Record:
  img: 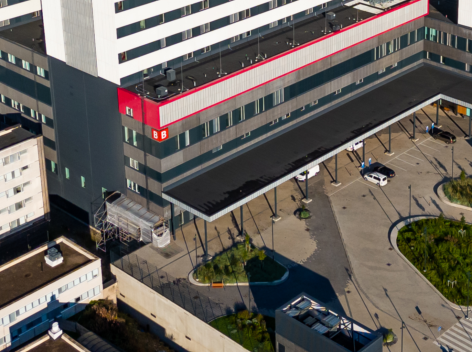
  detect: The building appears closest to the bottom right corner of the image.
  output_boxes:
[274,283,391,352]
